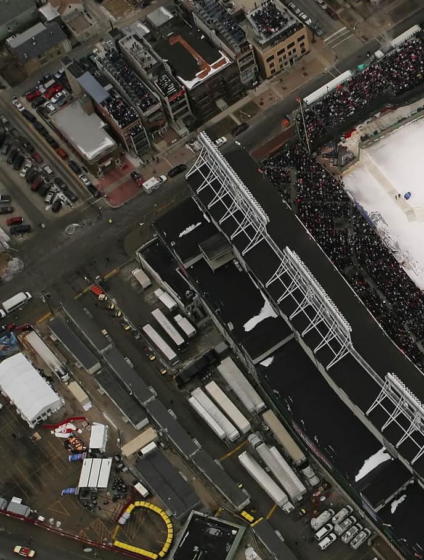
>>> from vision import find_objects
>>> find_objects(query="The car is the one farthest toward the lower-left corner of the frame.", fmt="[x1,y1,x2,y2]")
[13,546,36,559]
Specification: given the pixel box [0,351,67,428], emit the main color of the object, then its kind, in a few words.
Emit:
white tent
